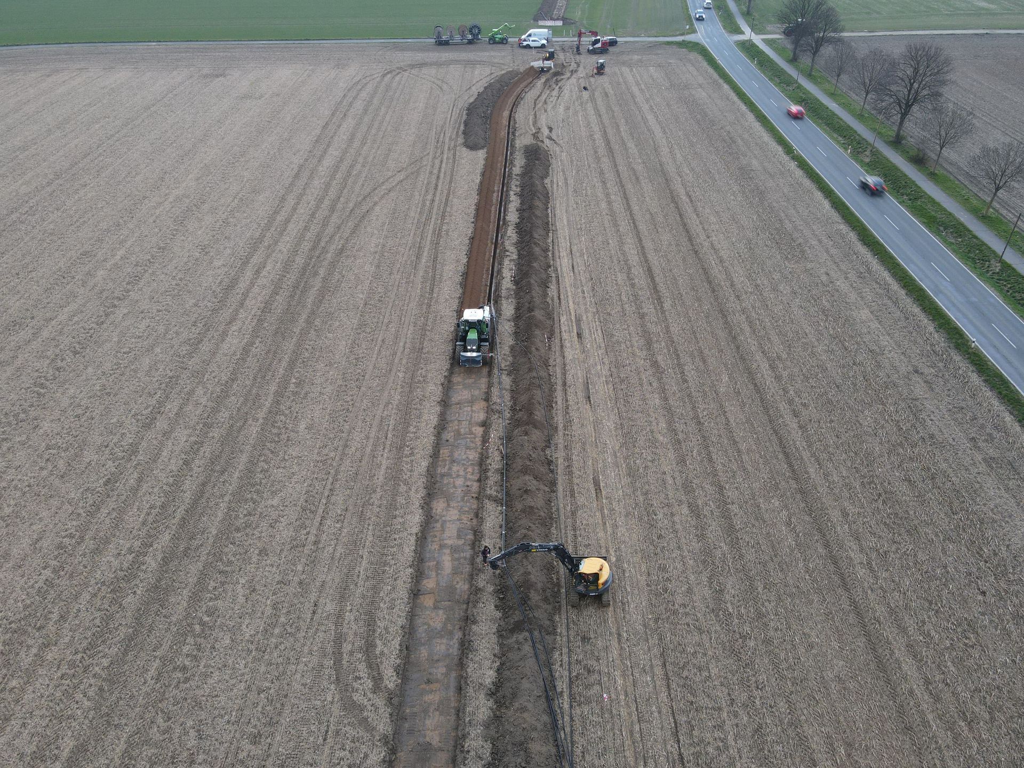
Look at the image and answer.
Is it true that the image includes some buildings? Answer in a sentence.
No, there is no building in the image.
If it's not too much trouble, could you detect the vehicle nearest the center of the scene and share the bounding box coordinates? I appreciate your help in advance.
[456,306,504,372]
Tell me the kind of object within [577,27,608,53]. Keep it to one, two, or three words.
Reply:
work vehicle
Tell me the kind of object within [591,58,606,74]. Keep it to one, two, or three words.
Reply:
work vehicle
